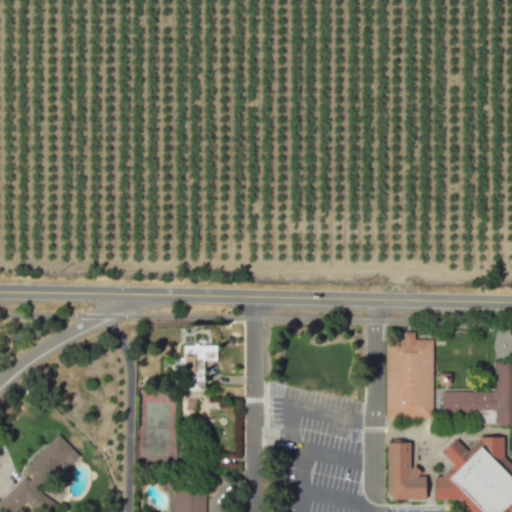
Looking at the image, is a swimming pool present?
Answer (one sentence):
Yes, a swimming pool is visible in the scene.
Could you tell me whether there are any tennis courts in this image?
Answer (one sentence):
Yes, looking at the shot, I can spot a tennis court.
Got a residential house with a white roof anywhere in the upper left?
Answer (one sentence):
No, the scene shows no residential house with a white roof in the upper left.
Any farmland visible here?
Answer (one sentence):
Yes, farmland can be seen from above here.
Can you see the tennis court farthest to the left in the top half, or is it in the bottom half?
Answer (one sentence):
The tennis court farthest to the left sits in the bottom half of the picture.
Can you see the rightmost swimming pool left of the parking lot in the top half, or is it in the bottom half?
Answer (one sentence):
Seen from above, the rightmost swimming pool left of the parking lot lies in the bottom half of the view.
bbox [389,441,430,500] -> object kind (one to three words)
building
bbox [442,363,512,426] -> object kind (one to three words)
building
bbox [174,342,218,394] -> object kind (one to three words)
house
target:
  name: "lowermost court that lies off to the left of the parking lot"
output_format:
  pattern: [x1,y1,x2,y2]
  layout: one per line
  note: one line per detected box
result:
[139,388,177,462]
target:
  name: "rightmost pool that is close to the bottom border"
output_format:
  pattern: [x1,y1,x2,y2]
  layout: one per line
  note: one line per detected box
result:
[142,484,169,512]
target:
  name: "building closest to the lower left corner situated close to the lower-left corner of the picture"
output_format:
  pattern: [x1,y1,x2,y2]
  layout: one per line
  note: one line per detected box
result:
[0,436,80,512]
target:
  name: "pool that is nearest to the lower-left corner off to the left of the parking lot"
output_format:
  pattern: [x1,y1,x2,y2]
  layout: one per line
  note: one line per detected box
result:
[50,456,98,504]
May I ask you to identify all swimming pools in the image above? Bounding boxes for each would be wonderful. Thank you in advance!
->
[142,484,169,512]
[50,456,98,504]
